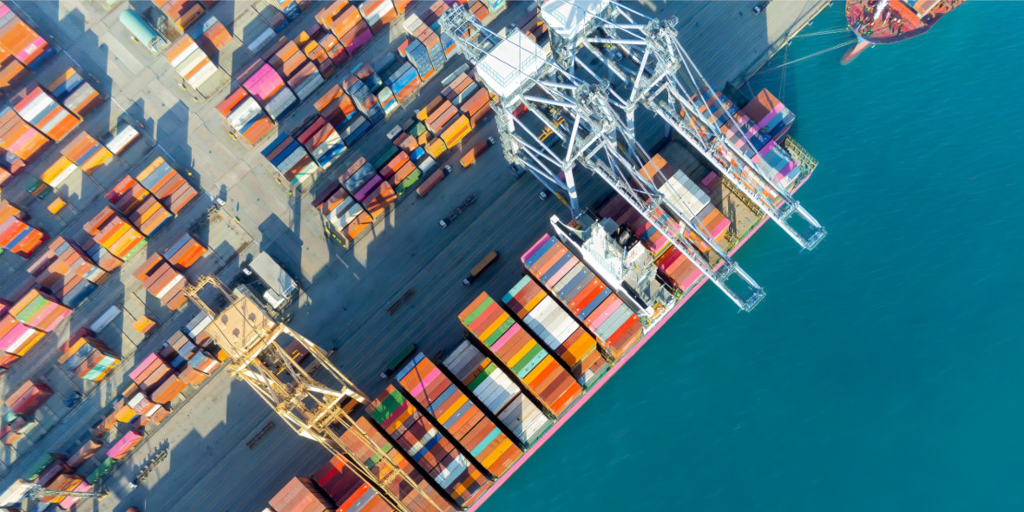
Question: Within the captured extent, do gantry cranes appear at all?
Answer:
Yes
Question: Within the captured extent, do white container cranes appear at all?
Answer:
Yes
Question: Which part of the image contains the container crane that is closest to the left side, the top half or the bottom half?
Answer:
bottom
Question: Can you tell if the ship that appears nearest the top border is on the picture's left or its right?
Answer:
right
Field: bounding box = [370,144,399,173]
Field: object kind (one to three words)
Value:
shipping container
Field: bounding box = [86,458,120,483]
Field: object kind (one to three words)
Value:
shipping container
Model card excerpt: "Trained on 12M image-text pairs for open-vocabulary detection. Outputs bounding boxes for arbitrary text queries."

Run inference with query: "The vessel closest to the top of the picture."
[842,0,965,63]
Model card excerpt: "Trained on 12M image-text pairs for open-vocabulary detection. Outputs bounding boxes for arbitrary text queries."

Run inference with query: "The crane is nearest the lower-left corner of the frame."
[184,260,426,512]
